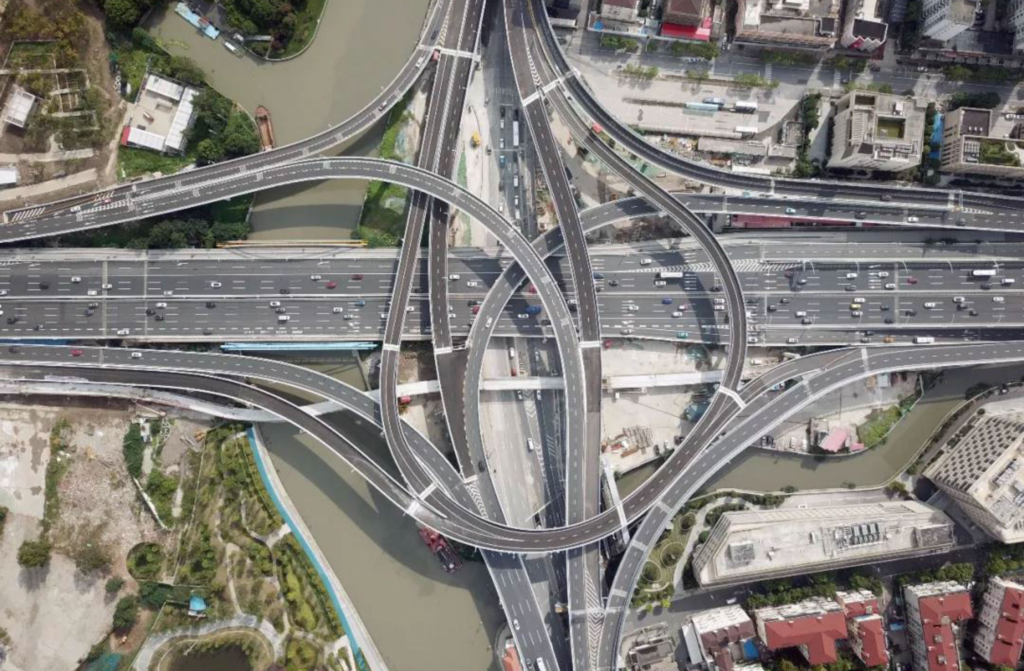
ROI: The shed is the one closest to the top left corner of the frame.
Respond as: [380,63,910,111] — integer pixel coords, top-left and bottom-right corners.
[4,89,39,128]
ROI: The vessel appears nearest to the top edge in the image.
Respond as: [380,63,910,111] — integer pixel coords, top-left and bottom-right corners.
[175,0,221,40]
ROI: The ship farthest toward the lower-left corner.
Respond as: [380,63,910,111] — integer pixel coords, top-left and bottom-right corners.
[420,527,460,576]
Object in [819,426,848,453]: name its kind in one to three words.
shed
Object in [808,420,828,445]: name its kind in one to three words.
house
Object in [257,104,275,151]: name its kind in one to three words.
ship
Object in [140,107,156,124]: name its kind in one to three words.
vehicle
